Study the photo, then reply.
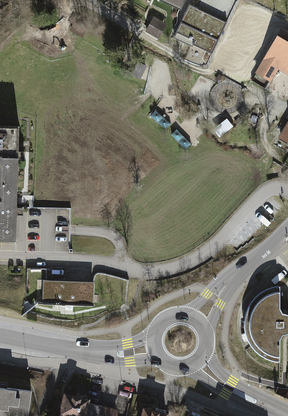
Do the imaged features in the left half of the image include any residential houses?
Yes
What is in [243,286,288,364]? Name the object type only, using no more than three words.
building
